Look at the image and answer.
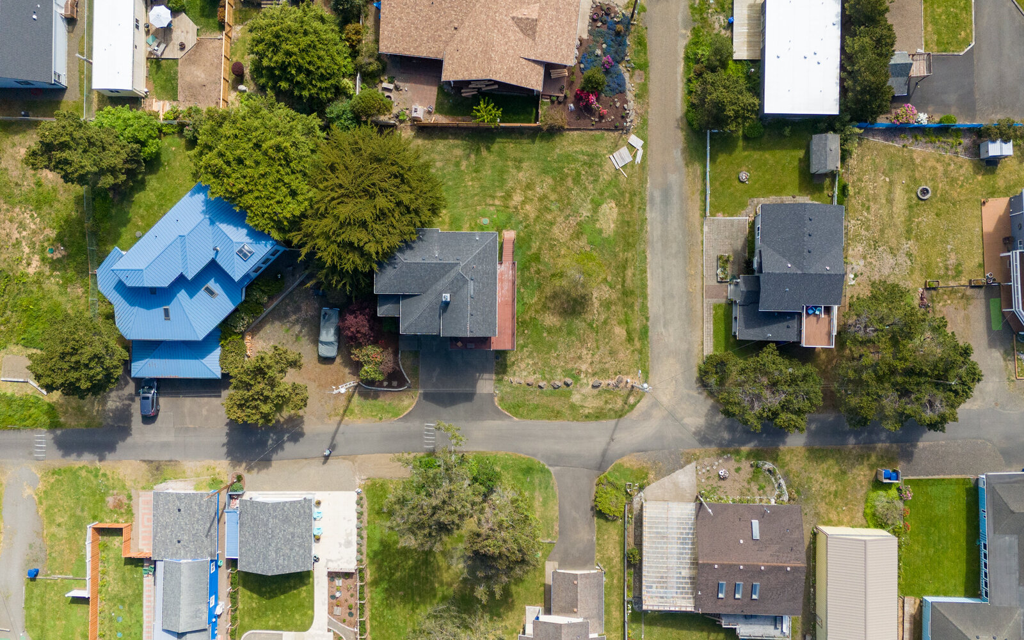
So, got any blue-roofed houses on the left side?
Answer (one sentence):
Yes, there is a blue-roofed house on the left side.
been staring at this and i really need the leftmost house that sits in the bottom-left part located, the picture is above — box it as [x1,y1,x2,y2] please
[152,490,222,640]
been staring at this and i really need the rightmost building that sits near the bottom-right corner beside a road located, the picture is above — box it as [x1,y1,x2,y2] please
[922,471,1024,640]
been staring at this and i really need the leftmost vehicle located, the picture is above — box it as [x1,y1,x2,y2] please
[137,379,162,418]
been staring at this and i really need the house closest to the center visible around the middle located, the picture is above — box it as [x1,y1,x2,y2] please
[374,228,516,351]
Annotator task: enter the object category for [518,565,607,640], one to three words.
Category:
house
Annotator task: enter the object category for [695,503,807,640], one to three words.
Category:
house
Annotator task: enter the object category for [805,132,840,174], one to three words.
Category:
shed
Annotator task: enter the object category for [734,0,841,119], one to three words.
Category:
building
